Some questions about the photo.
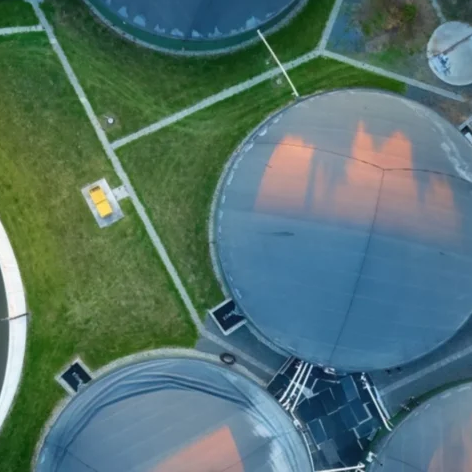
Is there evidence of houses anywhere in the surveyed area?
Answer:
No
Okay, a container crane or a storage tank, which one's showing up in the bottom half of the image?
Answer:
storage tank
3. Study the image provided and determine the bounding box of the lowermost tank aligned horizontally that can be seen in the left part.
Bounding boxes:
[34,351,314,472]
